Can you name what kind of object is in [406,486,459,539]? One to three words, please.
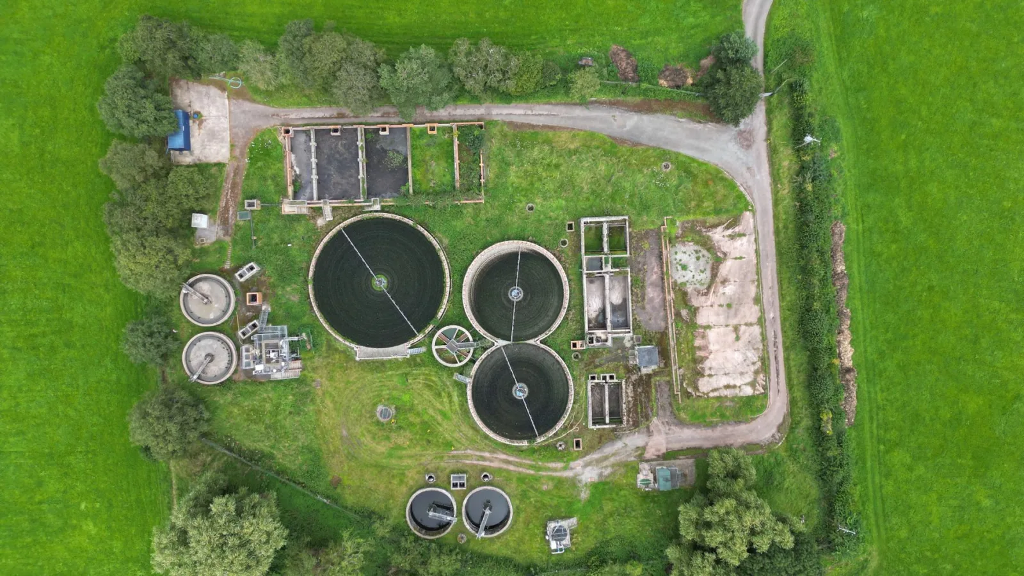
storage tank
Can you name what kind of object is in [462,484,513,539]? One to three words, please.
storage tank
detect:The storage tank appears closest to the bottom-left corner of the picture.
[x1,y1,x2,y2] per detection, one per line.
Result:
[183,330,239,385]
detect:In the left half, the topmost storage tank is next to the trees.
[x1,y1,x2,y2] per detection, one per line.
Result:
[179,273,238,327]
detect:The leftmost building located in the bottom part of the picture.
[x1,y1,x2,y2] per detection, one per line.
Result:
[546,518,571,554]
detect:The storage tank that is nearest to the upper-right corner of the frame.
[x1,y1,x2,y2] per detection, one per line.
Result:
[580,216,633,348]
